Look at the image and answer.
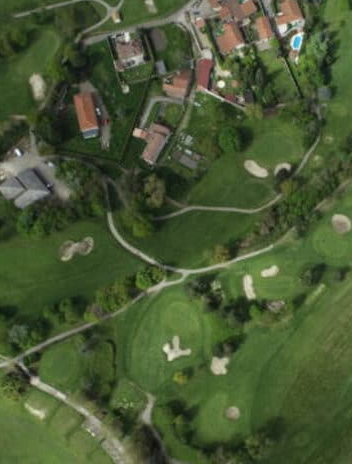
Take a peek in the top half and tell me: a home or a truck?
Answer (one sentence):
The one visible in the top half is a home.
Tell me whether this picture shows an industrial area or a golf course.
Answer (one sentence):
The picture captures a golf course.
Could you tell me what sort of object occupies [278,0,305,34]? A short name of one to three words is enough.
house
